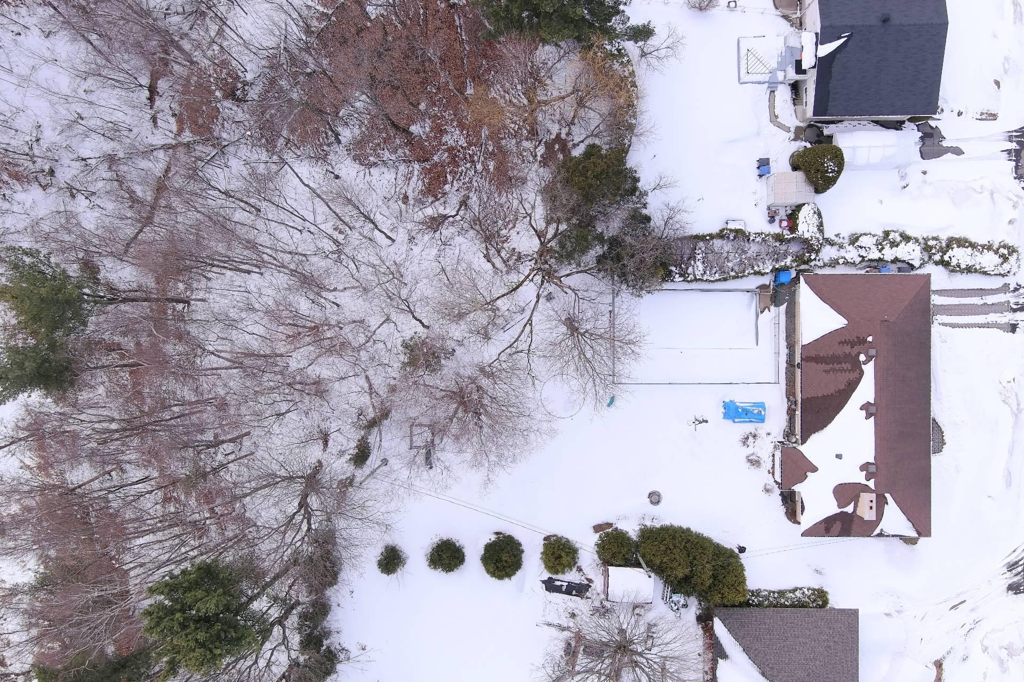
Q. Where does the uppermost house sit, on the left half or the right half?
right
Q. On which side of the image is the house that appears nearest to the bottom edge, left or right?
right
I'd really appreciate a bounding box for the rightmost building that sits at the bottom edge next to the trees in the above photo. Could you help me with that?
[713,606,859,682]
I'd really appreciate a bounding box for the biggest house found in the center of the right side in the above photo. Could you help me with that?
[775,272,933,540]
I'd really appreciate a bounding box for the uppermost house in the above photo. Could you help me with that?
[801,0,948,121]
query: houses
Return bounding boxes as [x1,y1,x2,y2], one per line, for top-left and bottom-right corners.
[713,606,859,682]
[775,272,933,540]
[801,0,948,121]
